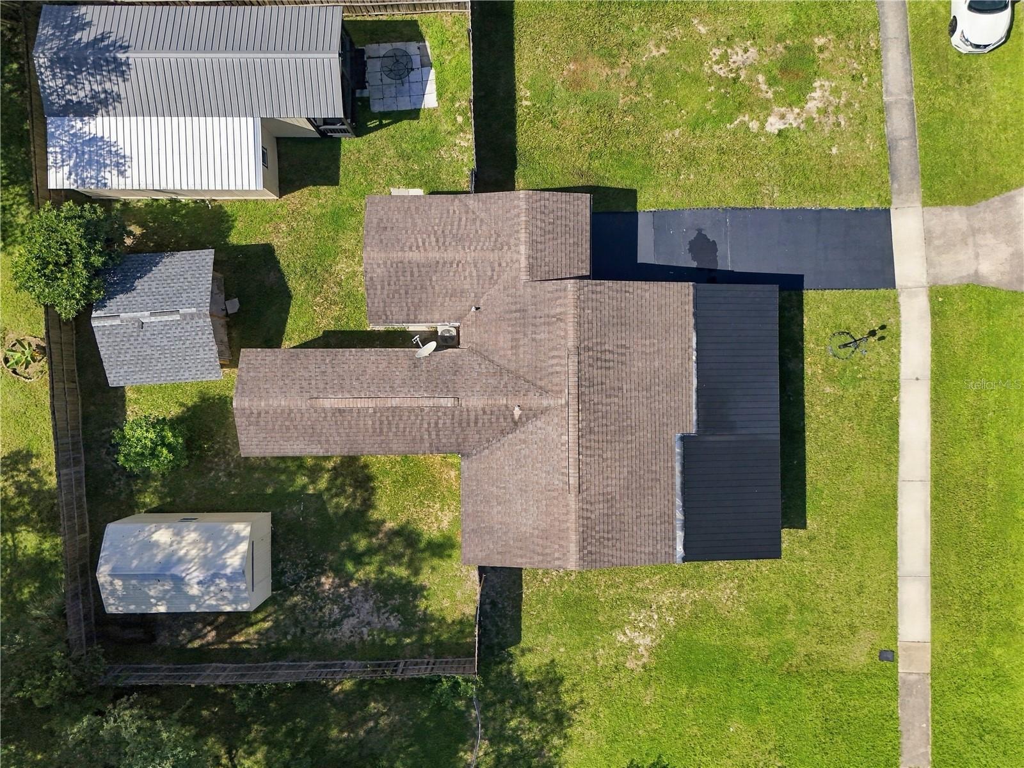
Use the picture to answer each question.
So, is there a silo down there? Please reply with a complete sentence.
No, no silo is visible in the scene.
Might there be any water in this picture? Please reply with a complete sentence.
No, there is no water in the image.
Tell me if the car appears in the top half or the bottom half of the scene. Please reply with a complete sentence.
The car is in the top half of the image.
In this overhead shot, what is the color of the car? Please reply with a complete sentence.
The car looks white in the image.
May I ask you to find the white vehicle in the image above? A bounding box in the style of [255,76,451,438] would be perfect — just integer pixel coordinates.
[942,0,1011,55]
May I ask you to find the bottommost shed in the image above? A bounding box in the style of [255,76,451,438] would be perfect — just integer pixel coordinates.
[92,513,271,613]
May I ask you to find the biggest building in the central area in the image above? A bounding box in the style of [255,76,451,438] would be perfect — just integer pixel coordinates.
[233,191,781,573]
